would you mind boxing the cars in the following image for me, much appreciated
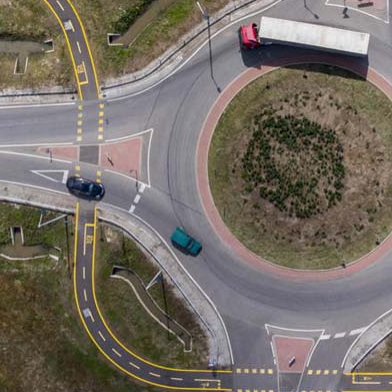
[68,178,105,199]
[171,227,201,253]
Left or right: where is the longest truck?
right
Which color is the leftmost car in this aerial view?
black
